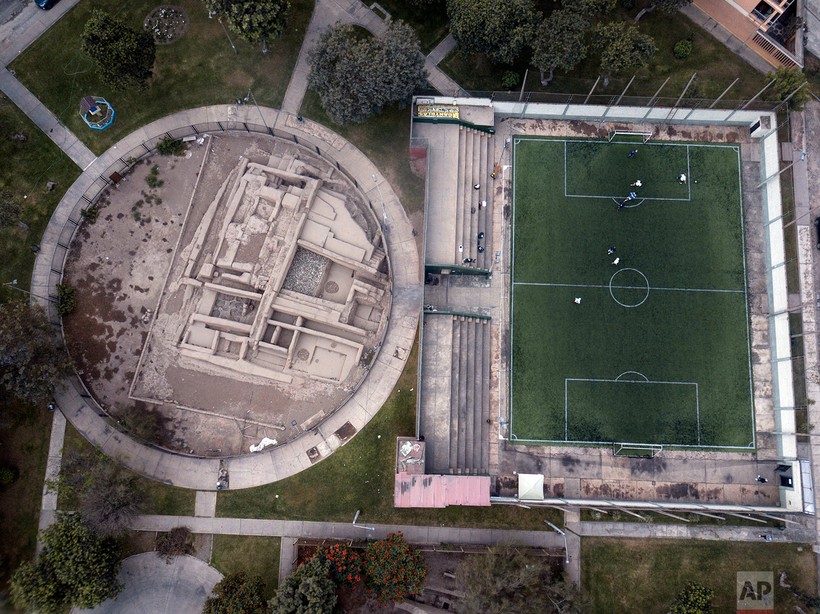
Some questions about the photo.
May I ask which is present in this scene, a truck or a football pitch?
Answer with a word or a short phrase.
football pitch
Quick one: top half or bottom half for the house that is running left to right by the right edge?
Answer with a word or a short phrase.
top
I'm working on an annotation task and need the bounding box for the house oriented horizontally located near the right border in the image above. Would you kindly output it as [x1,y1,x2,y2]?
[725,0,795,29]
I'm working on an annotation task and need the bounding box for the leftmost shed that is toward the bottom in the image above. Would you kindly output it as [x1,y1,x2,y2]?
[394,472,492,508]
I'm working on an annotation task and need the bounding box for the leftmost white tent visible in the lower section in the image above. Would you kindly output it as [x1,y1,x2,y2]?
[517,473,544,500]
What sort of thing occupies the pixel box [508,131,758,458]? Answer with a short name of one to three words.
soccer field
